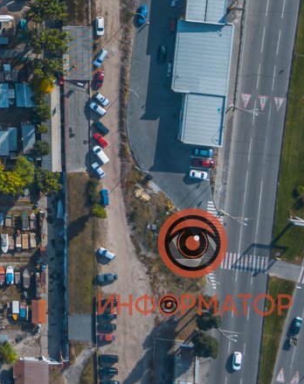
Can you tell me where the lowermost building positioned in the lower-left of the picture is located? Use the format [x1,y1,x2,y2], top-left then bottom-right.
[9,353,49,384]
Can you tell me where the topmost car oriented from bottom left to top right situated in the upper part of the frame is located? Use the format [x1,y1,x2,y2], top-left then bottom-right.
[92,49,107,67]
